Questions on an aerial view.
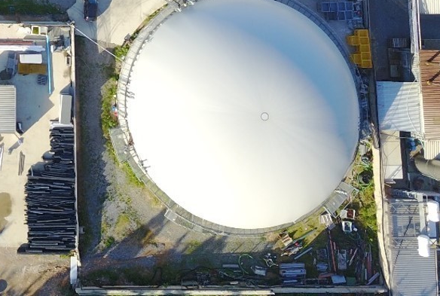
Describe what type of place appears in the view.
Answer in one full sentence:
The area seen from above is an industrial area.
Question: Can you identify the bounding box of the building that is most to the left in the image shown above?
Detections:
[55,92,72,124]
